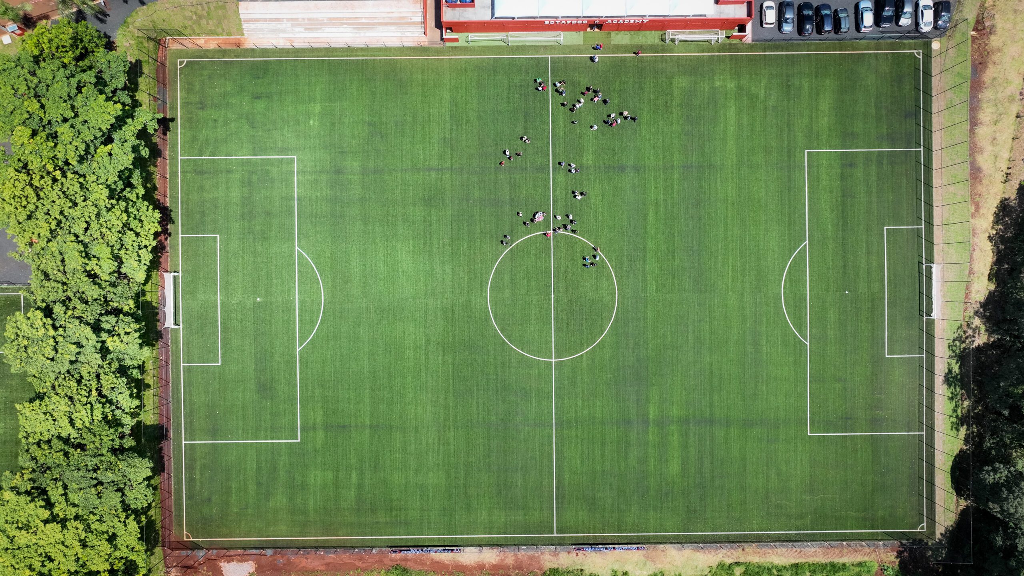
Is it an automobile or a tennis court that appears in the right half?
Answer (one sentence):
What appears in the right half is an automobile.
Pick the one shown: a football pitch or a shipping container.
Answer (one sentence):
This aerial view contains a football pitch.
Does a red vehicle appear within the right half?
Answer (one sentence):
No, no red vehicle appears within the right half.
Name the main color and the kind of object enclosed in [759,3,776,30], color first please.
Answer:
white car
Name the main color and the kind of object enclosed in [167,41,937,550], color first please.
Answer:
green soccer field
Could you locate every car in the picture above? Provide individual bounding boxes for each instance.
[855,2,873,34]
[795,4,813,38]
[832,9,849,37]
[930,1,949,32]
[914,0,933,34]
[893,0,911,29]
[874,0,893,29]
[813,6,832,37]
[759,3,776,30]
[776,2,794,36]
